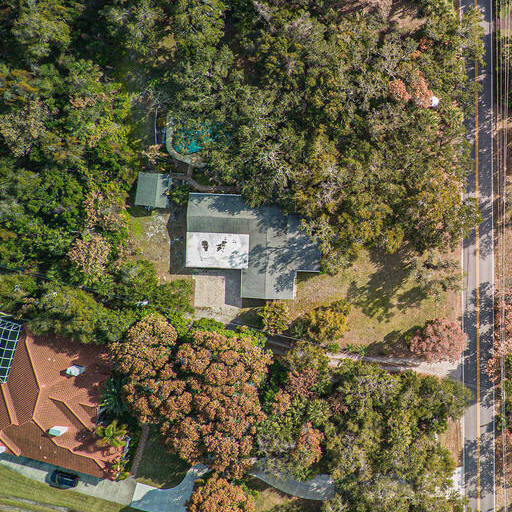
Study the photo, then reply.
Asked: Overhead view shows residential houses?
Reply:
Yes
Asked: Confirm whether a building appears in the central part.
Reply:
Yes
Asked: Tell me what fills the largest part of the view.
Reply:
trees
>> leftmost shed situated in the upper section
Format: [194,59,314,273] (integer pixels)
[132,172,170,208]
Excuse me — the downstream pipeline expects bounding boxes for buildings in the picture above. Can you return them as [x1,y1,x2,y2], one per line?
[0,327,120,481]
[132,172,170,208]
[185,192,321,300]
